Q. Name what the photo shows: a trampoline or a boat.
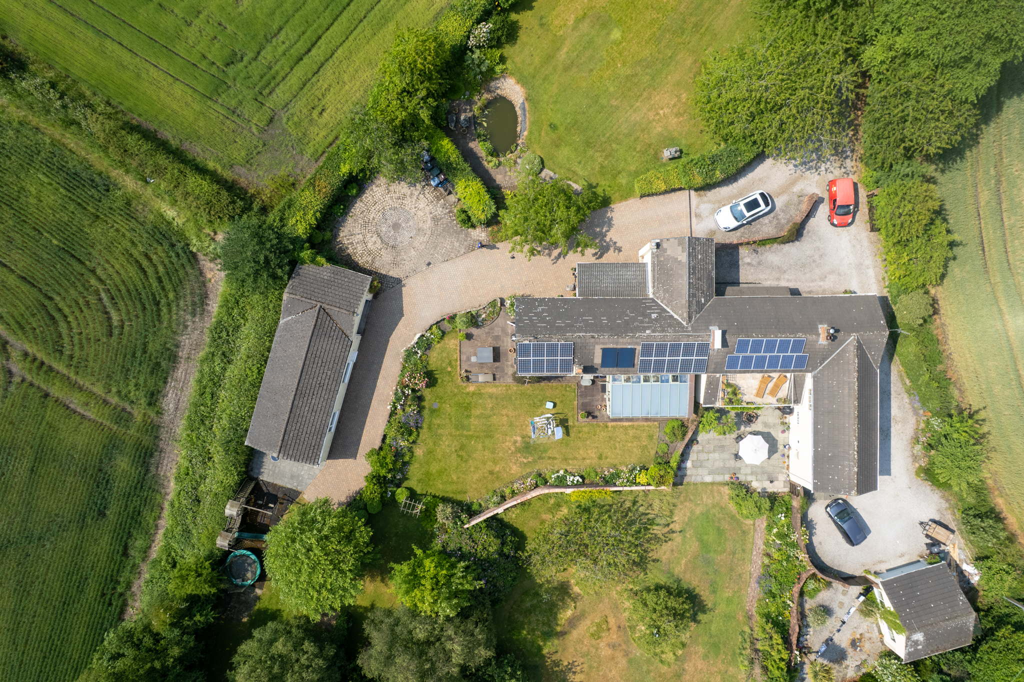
trampoline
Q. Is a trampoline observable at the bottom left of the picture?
Yes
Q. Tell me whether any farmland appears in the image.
Yes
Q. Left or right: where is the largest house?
right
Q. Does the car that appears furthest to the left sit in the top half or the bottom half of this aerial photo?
top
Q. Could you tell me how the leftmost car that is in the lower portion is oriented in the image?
at an angle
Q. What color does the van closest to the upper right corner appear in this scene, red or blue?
red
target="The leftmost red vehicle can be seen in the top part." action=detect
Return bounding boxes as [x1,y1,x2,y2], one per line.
[825,175,858,231]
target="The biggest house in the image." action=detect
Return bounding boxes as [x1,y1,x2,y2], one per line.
[503,235,927,496]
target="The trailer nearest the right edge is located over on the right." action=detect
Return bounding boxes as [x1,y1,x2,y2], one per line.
[913,516,960,550]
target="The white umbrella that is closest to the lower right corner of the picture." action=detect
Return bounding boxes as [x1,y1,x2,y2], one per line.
[737,433,768,463]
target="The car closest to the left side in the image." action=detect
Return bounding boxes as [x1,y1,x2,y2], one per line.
[713,189,773,234]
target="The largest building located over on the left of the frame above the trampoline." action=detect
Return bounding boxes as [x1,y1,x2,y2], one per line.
[245,263,375,466]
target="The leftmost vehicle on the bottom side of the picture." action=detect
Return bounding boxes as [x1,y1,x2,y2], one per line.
[822,494,870,548]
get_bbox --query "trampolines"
[220,549,262,595]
